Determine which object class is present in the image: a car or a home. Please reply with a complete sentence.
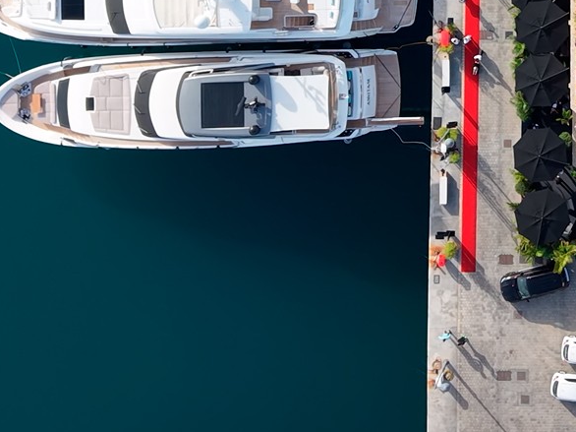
Of the two, only a car appears.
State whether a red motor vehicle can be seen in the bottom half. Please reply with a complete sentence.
No, I can find no red motor vehicle in the bottom half.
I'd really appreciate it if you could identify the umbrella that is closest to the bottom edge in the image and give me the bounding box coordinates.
[515,192,569,245]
